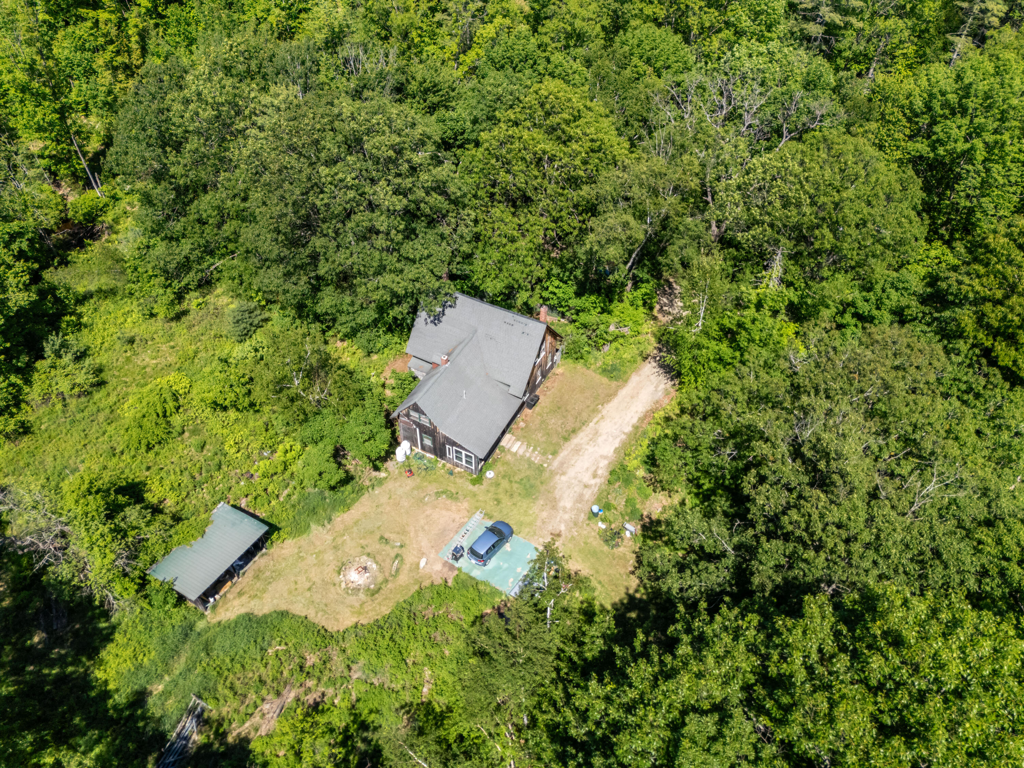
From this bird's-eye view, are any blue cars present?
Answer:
Yes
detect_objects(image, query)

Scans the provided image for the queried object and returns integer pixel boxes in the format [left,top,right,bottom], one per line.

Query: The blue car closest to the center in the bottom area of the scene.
[464,521,514,568]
